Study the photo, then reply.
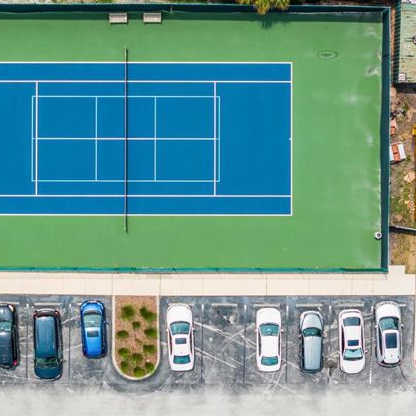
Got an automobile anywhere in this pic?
Yes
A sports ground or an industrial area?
sports ground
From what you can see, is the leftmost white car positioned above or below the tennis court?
below it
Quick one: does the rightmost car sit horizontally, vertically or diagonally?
vertically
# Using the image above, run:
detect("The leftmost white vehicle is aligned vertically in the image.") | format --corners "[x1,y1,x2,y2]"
[165,303,196,371]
